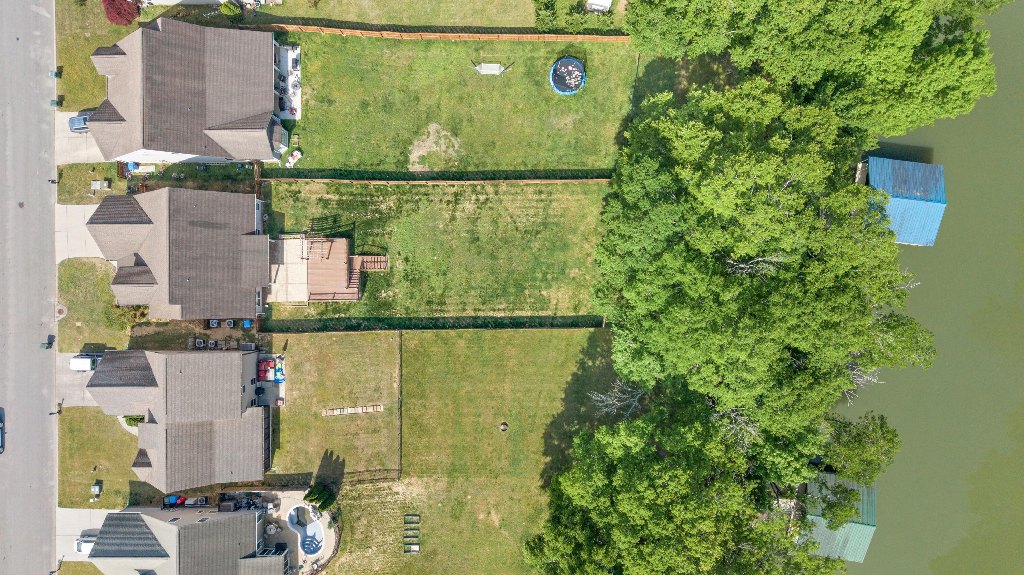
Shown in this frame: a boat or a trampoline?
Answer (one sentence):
This aerial view contains a trampoline.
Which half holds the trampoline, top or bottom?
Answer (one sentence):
The trampoline sits in the top half of the picture.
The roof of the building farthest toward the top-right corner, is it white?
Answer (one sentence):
No, from above the roof of the building farthest toward the top-right corner looks blue.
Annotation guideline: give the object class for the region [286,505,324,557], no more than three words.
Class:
swimming pool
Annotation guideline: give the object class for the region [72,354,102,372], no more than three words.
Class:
car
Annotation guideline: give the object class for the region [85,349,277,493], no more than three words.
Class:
house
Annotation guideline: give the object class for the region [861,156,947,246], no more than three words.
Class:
building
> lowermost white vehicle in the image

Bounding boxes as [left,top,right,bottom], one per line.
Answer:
[75,534,97,552]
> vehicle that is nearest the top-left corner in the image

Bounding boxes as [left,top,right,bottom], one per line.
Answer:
[68,116,92,136]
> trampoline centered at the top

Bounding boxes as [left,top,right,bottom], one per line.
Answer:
[550,53,586,95]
